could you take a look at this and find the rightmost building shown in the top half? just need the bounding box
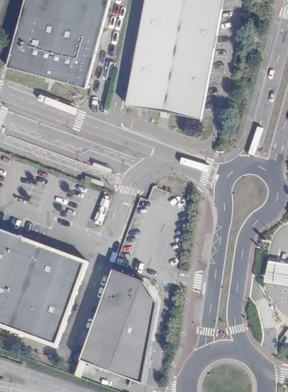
[124,0,226,122]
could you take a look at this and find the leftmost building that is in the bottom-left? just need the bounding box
[0,228,92,346]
